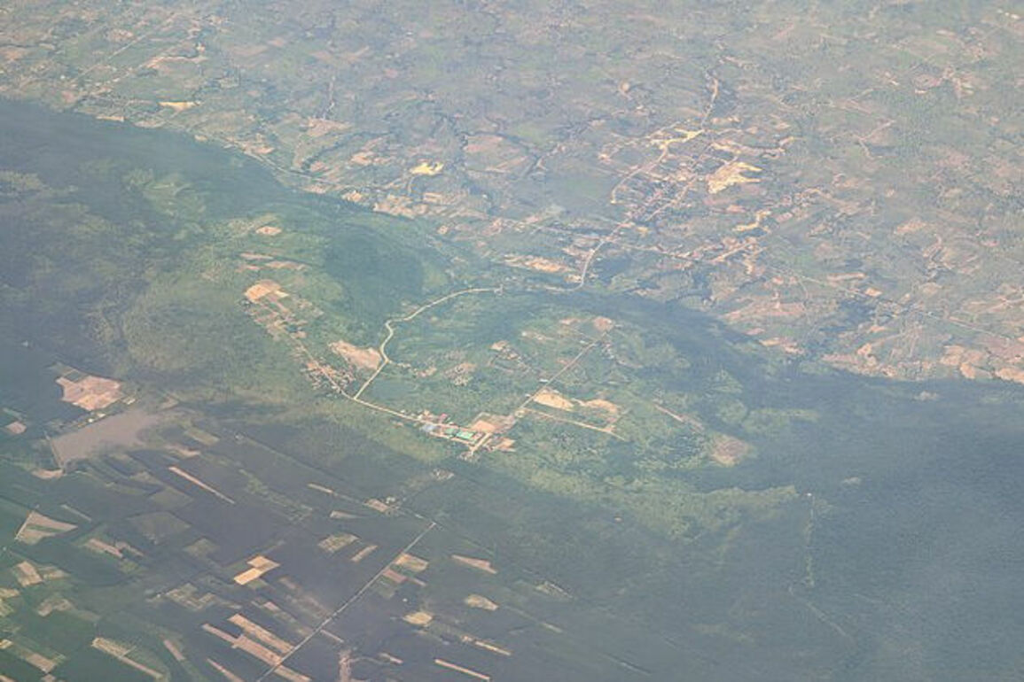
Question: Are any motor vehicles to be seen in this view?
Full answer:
No, there appears to be no motor vehicle in this shot.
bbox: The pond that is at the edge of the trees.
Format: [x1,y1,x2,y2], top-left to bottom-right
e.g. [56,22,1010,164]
[50,409,161,469]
